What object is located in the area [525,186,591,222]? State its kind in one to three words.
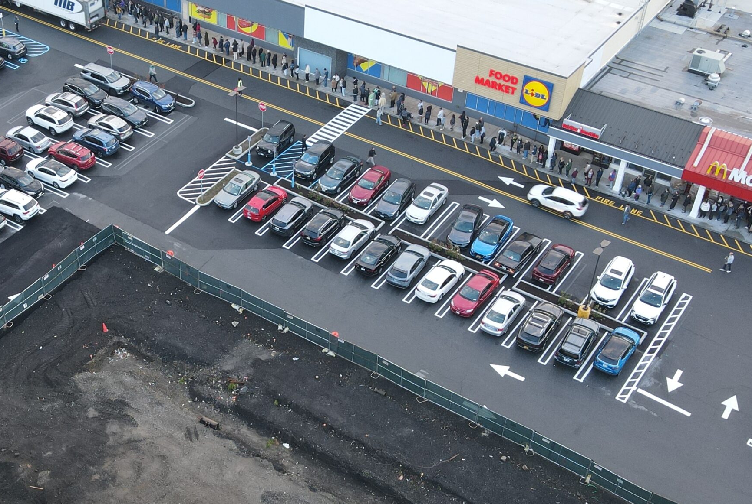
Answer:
car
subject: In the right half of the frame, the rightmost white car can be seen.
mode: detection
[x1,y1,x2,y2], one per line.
[628,273,677,326]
